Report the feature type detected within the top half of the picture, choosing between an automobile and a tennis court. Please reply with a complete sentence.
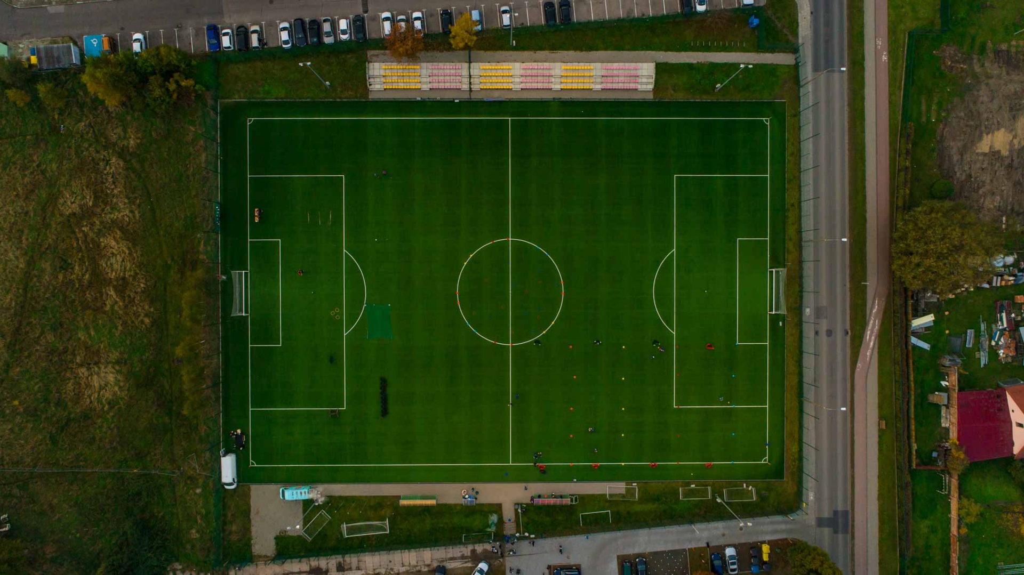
It is an automobile that can be seen within the top half of the picture.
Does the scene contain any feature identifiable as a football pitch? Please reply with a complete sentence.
Yes, there is a football pitch in the image.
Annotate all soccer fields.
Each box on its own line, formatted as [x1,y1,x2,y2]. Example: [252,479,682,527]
[220,100,785,484]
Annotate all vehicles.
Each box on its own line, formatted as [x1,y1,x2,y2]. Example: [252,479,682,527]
[434,564,446,575]
[558,0,571,25]
[220,29,235,52]
[101,34,115,57]
[411,11,425,38]
[543,1,556,28]
[308,19,322,46]
[380,11,393,39]
[500,6,512,30]
[278,482,313,500]
[440,8,452,35]
[278,21,293,50]
[234,24,250,53]
[352,14,367,43]
[724,545,738,575]
[338,17,351,43]
[131,32,147,56]
[220,448,239,486]
[710,550,724,575]
[681,0,694,18]
[472,557,490,575]
[206,24,222,52]
[248,24,263,52]
[471,8,483,33]
[635,556,648,575]
[322,16,336,46]
[695,0,708,15]
[293,17,309,48]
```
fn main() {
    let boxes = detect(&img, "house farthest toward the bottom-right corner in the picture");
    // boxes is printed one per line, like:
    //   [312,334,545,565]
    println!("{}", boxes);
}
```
[949,378,1024,462]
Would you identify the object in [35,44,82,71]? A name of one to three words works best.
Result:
shed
